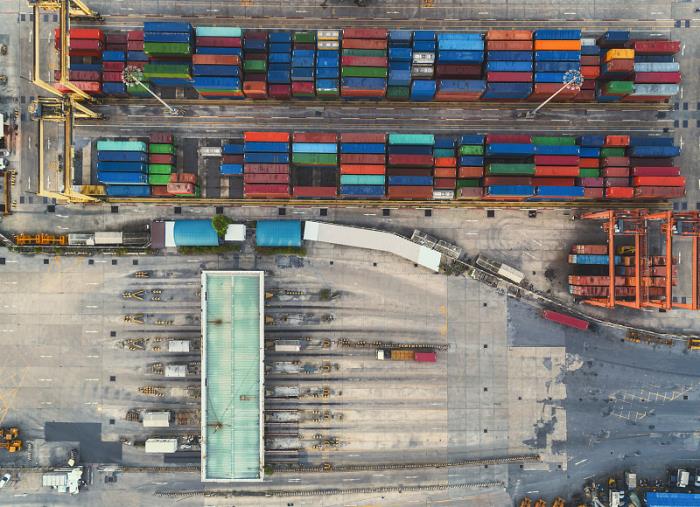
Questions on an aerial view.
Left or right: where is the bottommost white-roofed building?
left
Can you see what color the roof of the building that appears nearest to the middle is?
blue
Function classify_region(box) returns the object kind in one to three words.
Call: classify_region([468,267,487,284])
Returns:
vehicle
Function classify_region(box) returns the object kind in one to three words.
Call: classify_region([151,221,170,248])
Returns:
shed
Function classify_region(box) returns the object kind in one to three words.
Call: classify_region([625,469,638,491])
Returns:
vehicle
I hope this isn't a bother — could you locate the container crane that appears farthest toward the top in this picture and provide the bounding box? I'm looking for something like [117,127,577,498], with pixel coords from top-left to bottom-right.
[25,0,105,102]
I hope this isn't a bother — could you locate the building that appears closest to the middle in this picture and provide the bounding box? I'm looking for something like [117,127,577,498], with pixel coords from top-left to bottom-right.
[256,219,302,247]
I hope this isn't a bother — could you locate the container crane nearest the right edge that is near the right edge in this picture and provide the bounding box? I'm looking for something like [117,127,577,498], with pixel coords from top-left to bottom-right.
[623,209,700,310]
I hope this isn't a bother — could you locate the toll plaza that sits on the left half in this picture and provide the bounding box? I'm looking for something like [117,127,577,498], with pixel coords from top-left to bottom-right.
[201,271,272,482]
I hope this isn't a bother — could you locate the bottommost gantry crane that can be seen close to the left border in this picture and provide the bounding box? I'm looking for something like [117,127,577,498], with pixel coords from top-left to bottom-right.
[29,94,109,204]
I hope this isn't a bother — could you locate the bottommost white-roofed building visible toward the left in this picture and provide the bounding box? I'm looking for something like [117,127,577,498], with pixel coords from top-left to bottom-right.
[42,467,87,494]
